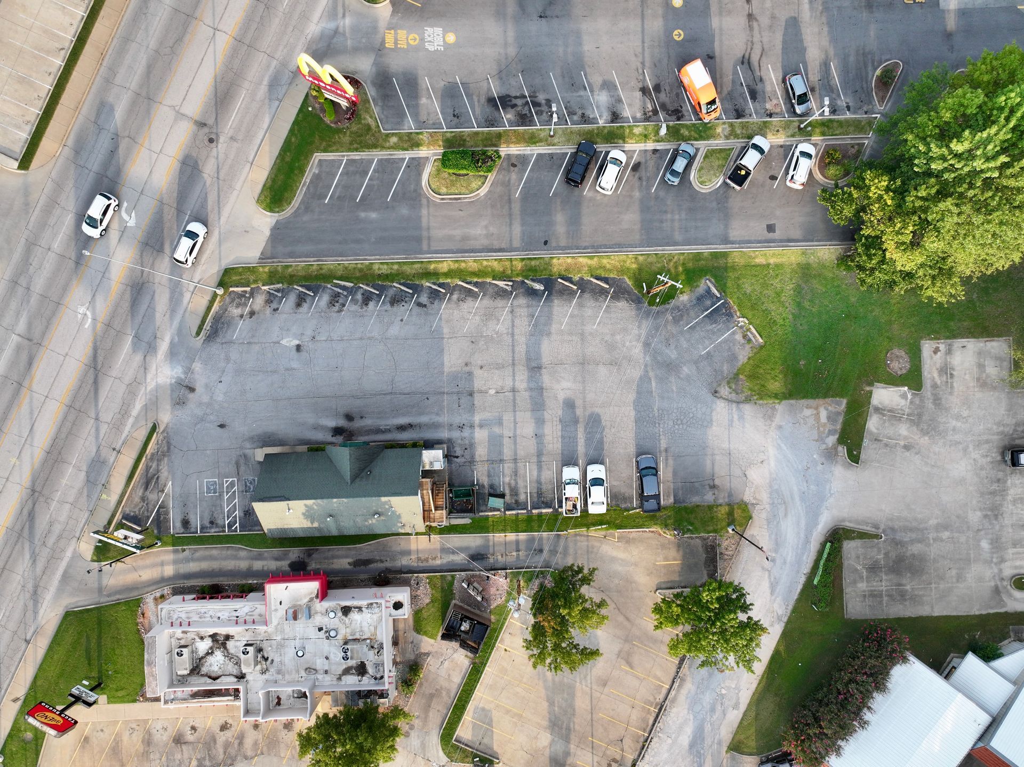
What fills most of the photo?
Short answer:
paved ground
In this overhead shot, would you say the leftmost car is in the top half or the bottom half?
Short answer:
top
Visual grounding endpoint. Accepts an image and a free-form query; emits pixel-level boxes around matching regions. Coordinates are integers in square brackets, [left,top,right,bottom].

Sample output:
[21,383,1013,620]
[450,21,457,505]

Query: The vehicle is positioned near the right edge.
[1003,448,1024,470]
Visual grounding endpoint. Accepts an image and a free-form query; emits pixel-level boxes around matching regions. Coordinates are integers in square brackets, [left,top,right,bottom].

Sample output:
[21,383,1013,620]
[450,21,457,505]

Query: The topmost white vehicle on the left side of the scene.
[83,193,119,236]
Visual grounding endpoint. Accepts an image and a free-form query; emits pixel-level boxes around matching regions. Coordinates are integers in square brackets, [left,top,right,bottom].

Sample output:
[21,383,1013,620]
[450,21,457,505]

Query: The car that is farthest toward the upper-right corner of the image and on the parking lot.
[783,72,812,116]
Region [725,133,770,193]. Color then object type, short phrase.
white truck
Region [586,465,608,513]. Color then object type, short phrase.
white car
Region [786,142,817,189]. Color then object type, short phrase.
white car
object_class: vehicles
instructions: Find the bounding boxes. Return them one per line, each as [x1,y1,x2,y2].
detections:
[565,140,595,188]
[586,465,608,513]
[597,150,626,194]
[664,142,695,186]
[677,56,718,122]
[174,225,206,266]
[786,142,817,189]
[725,133,770,193]
[83,193,119,236]
[1003,448,1024,470]
[637,456,662,514]
[783,72,812,116]
[561,466,583,516]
